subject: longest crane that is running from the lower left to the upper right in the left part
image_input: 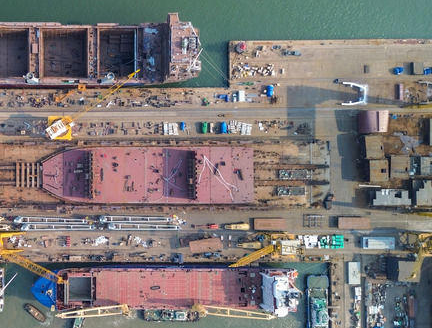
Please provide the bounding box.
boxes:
[43,69,141,141]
